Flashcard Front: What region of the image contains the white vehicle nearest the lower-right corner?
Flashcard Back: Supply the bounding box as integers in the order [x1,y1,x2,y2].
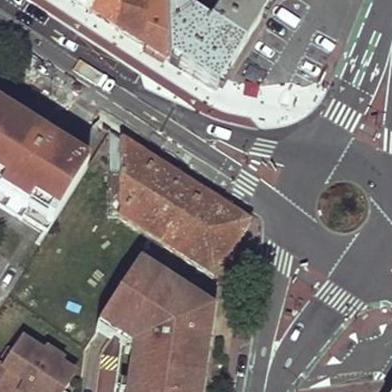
[288,321,302,342]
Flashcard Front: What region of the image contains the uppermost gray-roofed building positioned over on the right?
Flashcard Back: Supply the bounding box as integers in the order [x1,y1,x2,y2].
[210,0,268,33]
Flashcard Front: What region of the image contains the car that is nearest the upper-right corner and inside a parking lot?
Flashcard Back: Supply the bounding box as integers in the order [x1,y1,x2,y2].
[314,34,336,52]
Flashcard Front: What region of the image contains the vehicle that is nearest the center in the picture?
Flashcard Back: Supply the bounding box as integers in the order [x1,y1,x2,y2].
[206,125,232,140]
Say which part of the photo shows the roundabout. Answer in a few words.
right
